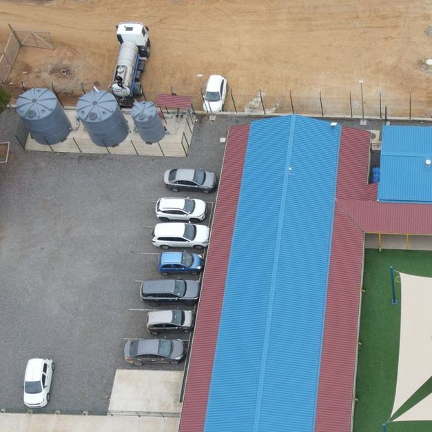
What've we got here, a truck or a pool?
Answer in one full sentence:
I can see a truck in this picture.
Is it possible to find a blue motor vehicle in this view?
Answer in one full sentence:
Yes, looking at the shot, I can spot a blue motor vehicle.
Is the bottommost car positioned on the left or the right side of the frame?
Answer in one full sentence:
It is on the left.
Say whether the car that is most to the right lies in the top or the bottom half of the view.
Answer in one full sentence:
The car that is most to the right sits in the top half of the picture.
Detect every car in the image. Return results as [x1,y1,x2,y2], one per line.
[124,337,189,367]
[199,72,229,116]
[149,223,210,252]
[136,278,201,308]
[152,195,209,224]
[19,358,57,409]
[157,250,206,277]
[144,308,197,336]
[162,168,219,195]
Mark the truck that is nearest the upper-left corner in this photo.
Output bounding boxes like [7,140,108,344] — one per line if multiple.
[115,23,158,102]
